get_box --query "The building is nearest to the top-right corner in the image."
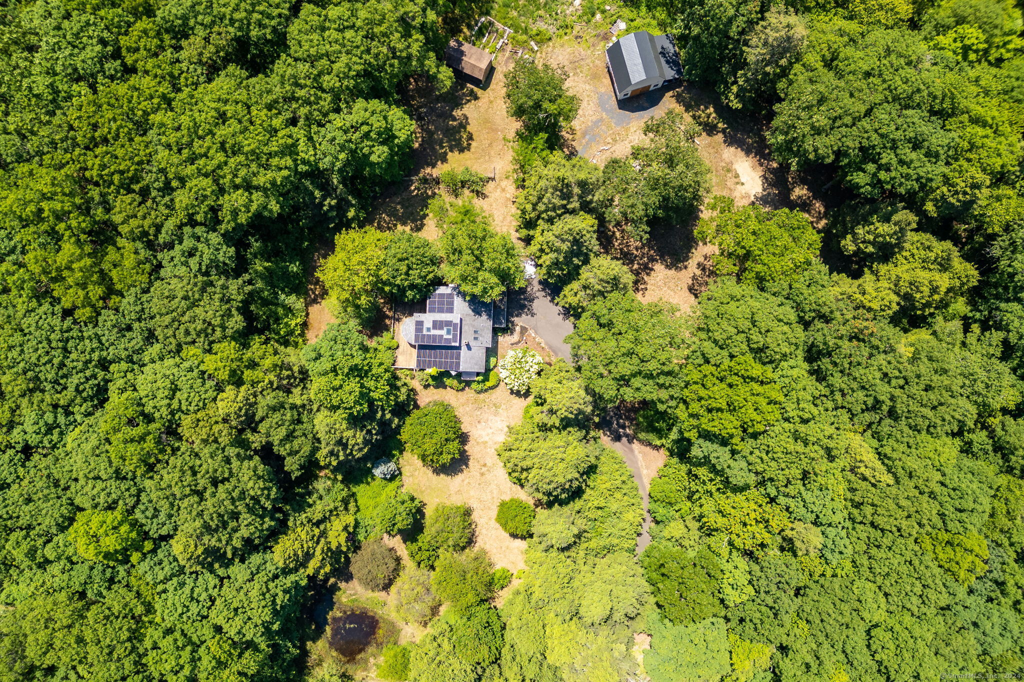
[605,31,680,100]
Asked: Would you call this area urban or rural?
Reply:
rural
